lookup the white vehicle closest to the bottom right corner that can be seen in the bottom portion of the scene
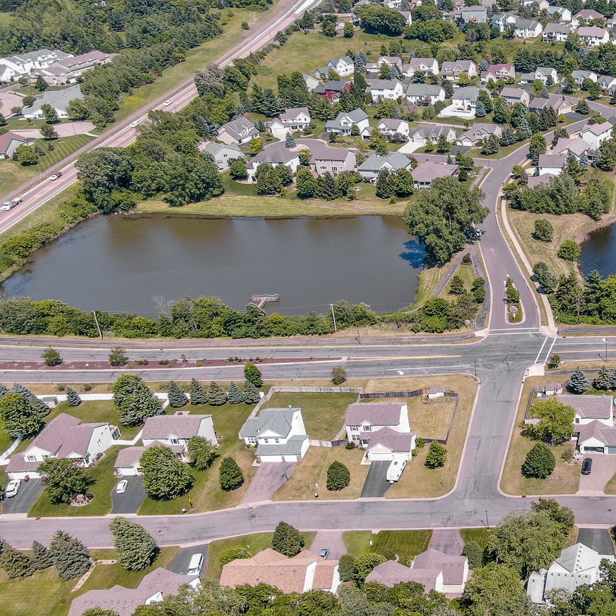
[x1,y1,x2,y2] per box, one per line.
[386,454,406,486]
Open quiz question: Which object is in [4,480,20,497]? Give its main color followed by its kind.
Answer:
white car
